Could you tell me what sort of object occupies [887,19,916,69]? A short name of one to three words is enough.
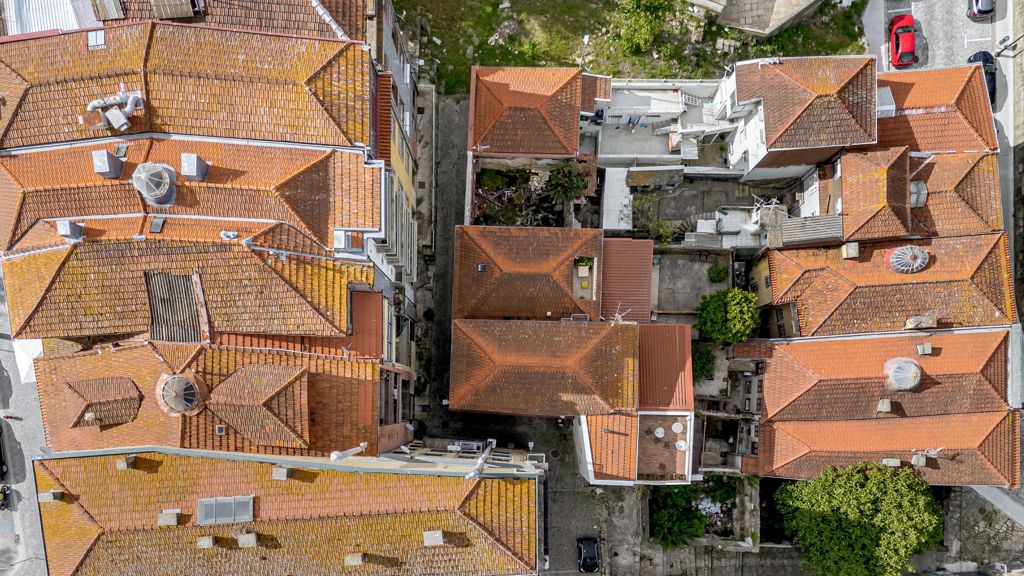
car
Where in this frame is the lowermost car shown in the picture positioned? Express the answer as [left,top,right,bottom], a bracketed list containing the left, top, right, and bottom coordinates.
[576,537,601,573]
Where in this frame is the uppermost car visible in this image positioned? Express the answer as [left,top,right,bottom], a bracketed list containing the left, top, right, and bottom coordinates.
[965,0,996,25]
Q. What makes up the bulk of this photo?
buildings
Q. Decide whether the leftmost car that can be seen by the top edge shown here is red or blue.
red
